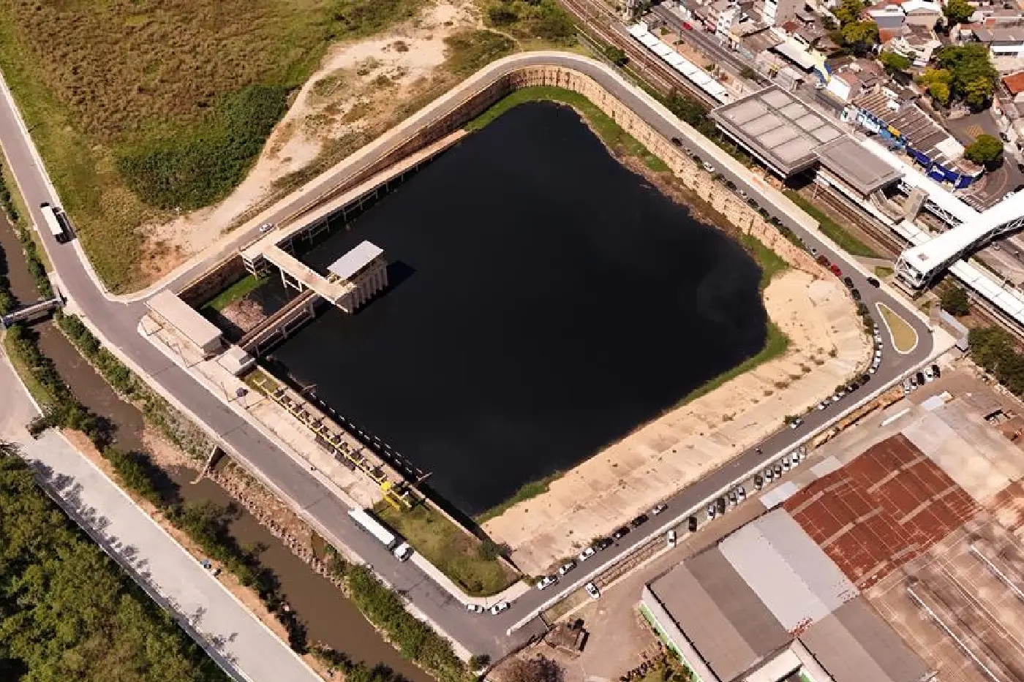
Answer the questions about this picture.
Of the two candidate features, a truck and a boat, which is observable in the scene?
truck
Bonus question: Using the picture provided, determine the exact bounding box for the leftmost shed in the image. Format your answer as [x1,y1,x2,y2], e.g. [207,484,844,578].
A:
[144,289,222,358]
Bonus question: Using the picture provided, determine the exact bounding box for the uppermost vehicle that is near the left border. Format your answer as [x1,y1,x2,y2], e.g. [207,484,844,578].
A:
[40,206,65,241]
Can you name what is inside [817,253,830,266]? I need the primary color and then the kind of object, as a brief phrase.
red vehicle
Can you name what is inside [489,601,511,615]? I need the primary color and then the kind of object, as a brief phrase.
white car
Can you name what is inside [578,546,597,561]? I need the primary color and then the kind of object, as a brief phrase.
white car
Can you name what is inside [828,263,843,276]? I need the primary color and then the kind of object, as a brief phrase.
red vehicle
